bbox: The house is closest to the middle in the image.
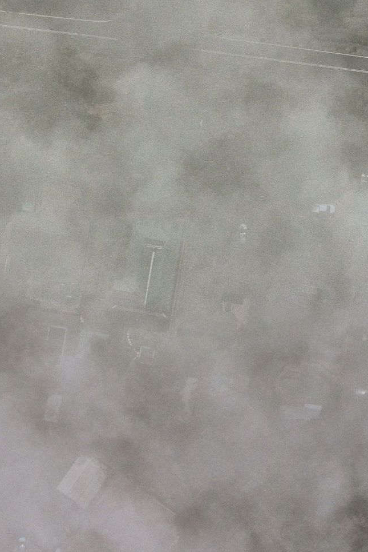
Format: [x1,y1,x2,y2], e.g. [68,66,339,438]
[110,226,182,311]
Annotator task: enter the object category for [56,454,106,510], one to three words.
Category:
house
